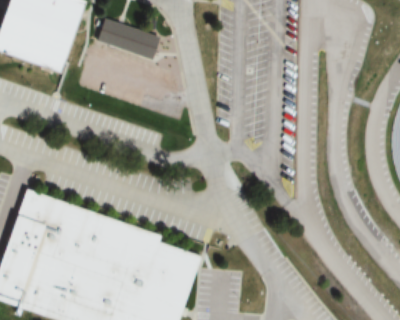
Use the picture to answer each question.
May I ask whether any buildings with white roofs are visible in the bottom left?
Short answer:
Yes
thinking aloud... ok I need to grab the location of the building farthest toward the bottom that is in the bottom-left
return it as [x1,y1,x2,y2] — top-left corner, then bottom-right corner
[0,188,203,320]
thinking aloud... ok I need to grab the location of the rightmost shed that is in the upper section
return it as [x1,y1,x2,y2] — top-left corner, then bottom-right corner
[98,18,159,58]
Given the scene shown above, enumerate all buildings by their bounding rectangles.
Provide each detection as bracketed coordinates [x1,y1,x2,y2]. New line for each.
[0,188,203,320]
[98,18,159,58]
[0,0,86,74]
